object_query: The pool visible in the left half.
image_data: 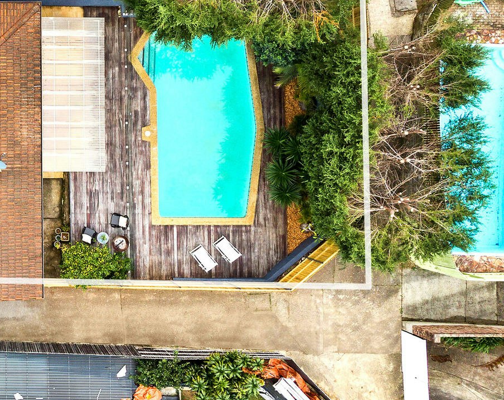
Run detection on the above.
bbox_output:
[132,27,265,225]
